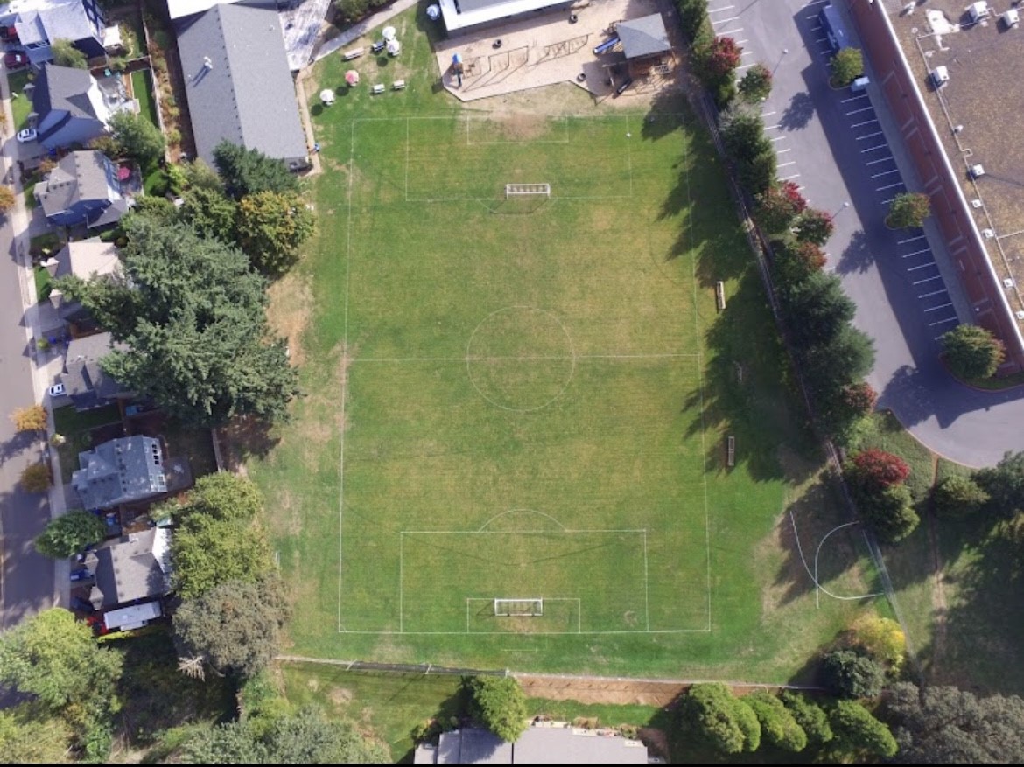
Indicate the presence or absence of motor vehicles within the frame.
Yes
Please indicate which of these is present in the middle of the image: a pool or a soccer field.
soccer field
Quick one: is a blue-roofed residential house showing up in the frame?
Yes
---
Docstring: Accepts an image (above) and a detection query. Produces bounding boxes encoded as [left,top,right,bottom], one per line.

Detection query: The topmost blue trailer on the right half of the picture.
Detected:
[824,1,854,44]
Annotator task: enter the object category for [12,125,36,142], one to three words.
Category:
car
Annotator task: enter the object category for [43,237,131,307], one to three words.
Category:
house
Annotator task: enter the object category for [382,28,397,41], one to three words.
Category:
umbrella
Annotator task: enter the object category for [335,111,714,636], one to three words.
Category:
soccer field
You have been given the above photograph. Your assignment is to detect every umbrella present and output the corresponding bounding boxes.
[321,89,335,104]
[346,71,360,87]
[382,28,397,41]
[387,39,401,54]
[426,6,441,23]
